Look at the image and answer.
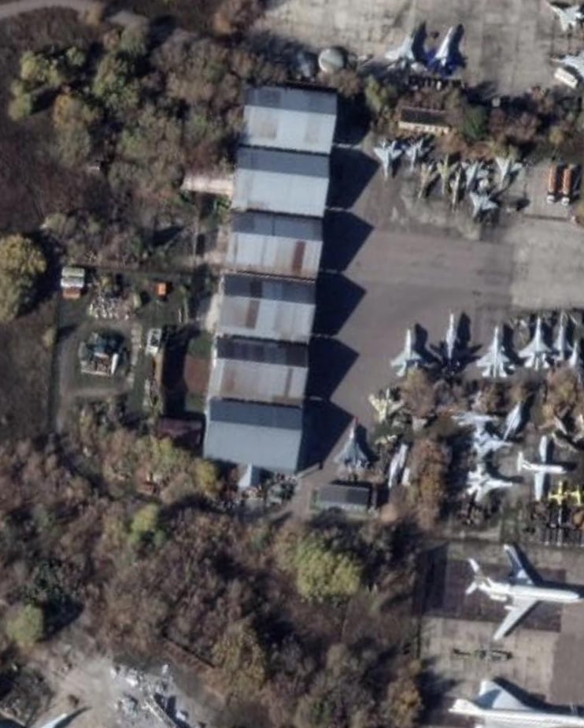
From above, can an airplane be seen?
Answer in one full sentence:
Yes, the image includes an airplane.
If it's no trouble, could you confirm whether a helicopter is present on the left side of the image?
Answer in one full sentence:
No, I can find no helicopter on the left side of the image.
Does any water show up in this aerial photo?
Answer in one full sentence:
No, the picture contains no water.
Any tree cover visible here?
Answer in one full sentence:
Yes, some tree cover is visible.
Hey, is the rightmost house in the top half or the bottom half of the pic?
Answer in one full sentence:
Seen from above, the rightmost house lies in the top half of the view.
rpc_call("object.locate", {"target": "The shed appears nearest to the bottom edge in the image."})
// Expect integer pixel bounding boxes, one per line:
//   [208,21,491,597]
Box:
[317,484,371,512]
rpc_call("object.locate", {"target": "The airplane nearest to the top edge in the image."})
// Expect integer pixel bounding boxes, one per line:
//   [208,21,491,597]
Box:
[550,1,584,31]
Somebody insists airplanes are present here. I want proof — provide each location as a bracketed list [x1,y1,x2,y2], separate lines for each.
[435,155,458,194]
[402,138,428,171]
[519,320,555,372]
[549,485,569,509]
[427,25,462,81]
[473,187,497,218]
[569,485,584,507]
[556,55,584,78]
[371,139,399,182]
[336,422,371,476]
[463,467,510,504]
[546,415,570,438]
[449,680,584,728]
[465,155,490,190]
[387,29,421,81]
[389,328,425,380]
[468,431,511,461]
[519,439,566,501]
[502,403,519,439]
[451,165,467,211]
[477,327,513,381]
[550,1,584,31]
[432,312,469,375]
[494,155,519,189]
[460,544,582,638]
[552,314,573,363]
[371,387,401,419]
[415,160,435,198]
